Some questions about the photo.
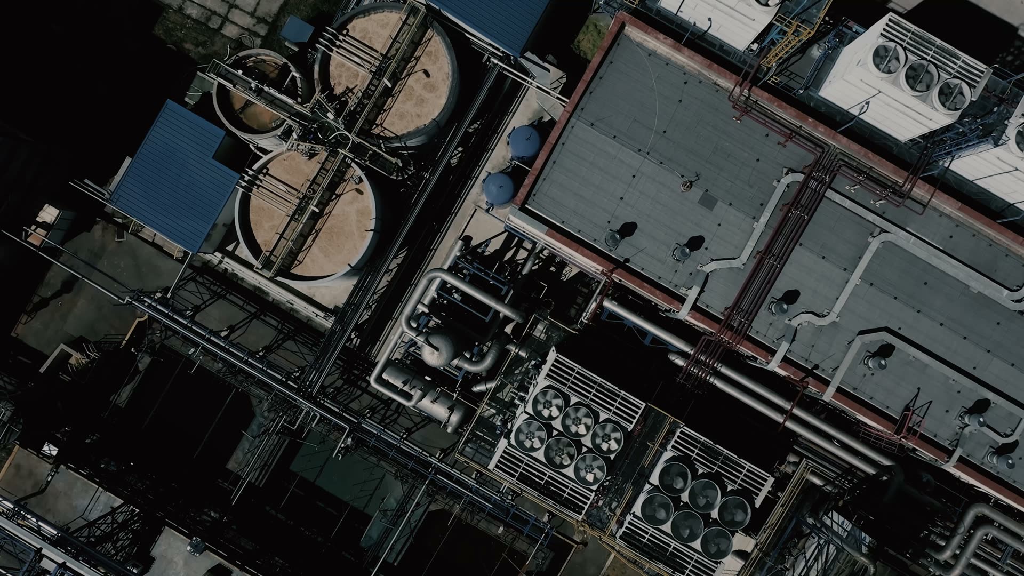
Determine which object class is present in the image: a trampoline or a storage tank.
storage tank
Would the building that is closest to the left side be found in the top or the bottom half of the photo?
top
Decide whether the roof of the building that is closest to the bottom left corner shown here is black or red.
black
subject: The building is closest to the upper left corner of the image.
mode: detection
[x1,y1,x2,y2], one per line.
[0,130,69,227]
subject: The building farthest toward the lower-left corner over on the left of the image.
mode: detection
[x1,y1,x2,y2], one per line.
[90,349,239,504]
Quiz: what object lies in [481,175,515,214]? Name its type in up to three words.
storage tank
